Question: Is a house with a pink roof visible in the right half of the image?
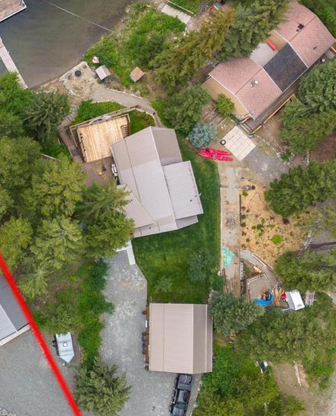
Yes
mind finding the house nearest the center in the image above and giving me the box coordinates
[77,114,204,238]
